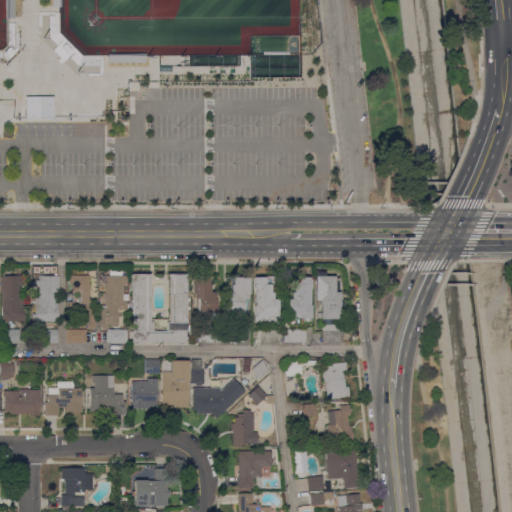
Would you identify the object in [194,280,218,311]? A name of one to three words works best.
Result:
house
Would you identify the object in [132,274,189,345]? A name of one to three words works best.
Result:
building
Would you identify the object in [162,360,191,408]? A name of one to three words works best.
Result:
house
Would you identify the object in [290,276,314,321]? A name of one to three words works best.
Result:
building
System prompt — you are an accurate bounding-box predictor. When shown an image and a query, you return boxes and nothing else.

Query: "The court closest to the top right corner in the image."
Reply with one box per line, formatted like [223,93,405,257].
[251,54,302,77]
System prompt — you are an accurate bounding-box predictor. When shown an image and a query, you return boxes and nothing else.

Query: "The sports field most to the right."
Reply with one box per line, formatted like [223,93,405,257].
[251,36,300,54]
